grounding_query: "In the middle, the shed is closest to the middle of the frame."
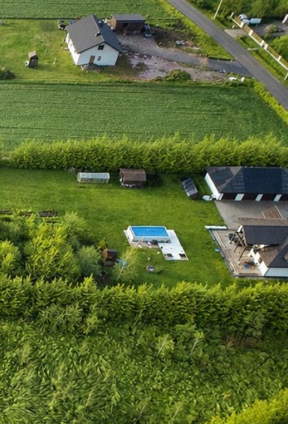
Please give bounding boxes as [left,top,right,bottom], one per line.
[117,168,151,187]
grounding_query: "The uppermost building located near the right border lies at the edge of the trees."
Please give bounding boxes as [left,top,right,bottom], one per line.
[196,168,288,202]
